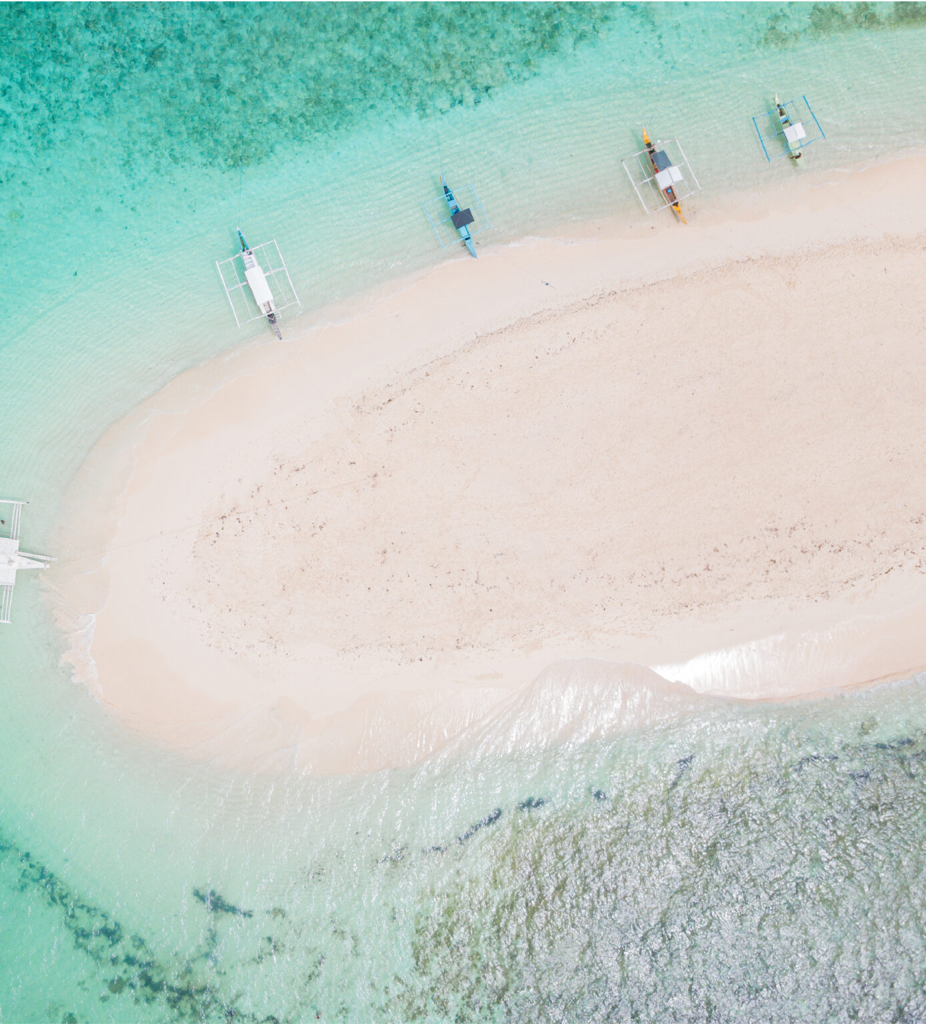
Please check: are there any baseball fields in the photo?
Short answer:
No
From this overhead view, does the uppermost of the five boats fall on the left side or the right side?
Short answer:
right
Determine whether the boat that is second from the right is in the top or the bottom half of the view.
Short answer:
top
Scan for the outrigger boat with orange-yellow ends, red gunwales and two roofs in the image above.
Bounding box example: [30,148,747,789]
[622,126,701,225]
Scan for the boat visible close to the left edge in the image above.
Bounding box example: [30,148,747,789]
[0,500,59,624]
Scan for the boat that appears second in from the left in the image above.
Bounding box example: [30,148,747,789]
[216,228,301,339]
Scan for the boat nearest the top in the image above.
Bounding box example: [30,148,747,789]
[753,93,826,170]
